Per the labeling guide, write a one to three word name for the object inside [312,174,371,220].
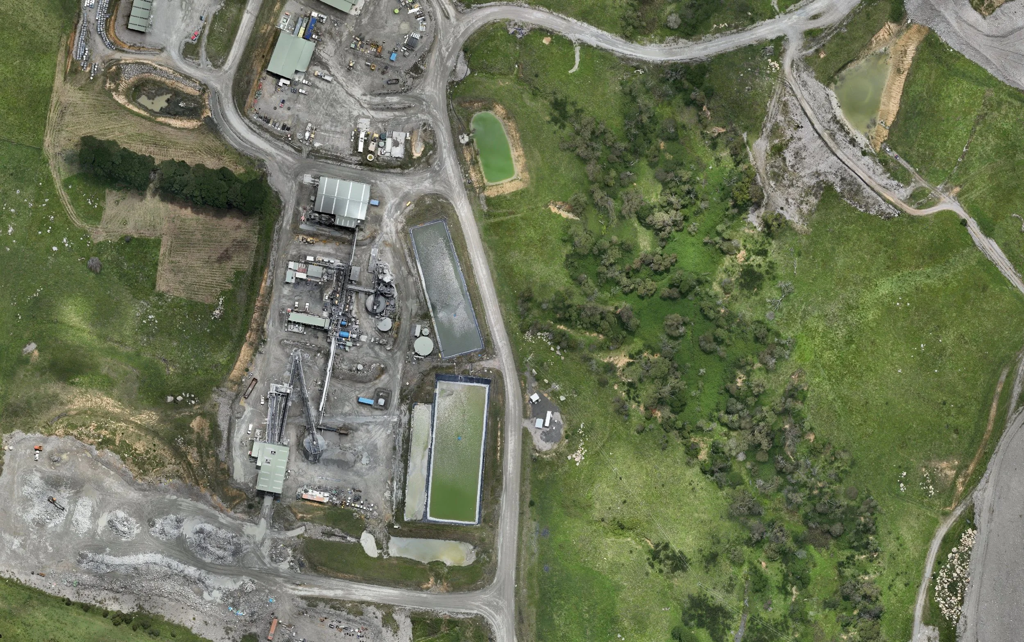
building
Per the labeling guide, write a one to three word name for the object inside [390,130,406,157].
shed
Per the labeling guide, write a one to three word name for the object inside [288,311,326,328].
building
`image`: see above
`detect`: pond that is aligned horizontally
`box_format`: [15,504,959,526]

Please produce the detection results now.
[389,534,478,568]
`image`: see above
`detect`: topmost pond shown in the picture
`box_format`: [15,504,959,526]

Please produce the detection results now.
[410,219,484,360]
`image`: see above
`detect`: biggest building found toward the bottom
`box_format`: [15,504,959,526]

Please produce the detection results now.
[254,443,289,496]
